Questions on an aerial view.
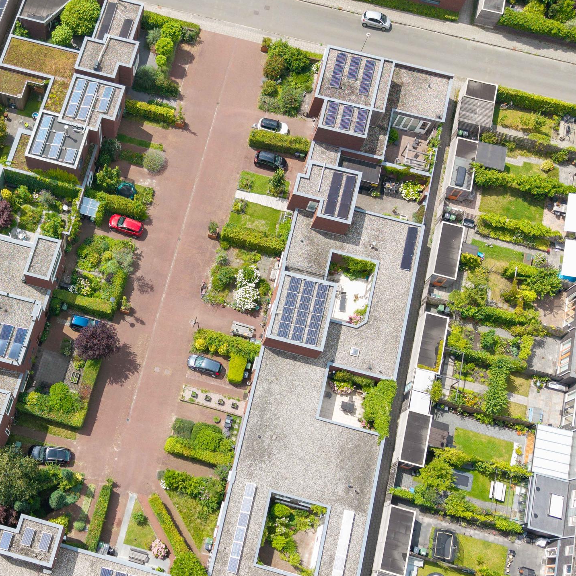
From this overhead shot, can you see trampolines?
Yes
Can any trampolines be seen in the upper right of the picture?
No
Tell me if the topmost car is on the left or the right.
right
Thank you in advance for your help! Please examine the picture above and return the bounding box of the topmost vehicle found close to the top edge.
[362,9,391,31]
